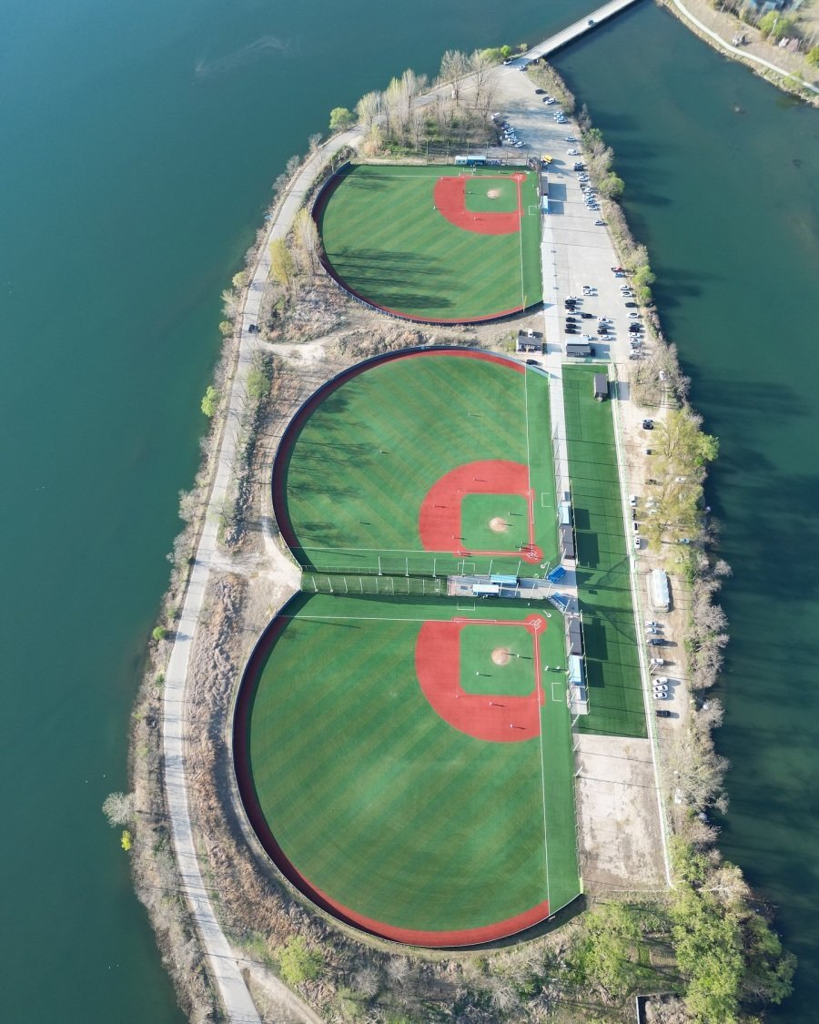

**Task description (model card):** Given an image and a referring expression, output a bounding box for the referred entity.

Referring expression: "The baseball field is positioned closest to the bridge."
[313,164,541,320]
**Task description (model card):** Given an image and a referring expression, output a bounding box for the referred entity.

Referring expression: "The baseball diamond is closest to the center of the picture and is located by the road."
[272,349,558,577]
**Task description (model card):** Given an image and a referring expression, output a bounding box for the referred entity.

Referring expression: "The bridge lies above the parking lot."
[527,0,640,58]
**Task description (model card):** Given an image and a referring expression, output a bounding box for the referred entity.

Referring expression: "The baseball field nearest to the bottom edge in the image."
[234,592,581,948]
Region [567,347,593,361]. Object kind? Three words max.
building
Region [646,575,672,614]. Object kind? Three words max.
greenhouse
